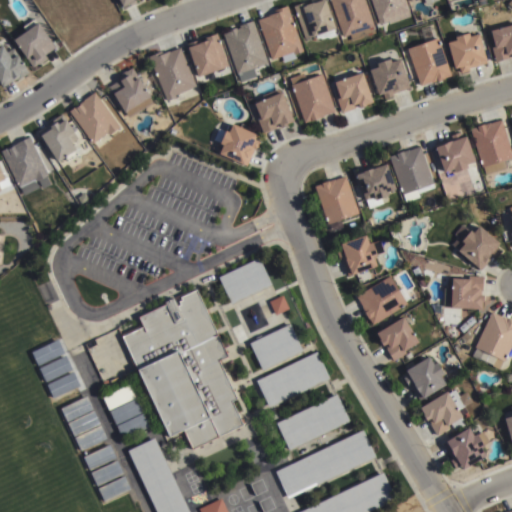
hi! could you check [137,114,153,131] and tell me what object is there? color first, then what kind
blue swimming pool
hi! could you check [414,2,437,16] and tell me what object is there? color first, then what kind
blue swimming pool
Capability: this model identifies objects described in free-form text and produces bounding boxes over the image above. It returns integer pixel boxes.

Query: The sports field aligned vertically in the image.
[0,264,141,512]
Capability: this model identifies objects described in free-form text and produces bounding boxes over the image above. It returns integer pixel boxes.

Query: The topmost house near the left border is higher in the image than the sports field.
[15,20,55,65]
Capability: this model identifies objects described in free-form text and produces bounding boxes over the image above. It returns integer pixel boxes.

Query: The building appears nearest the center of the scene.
[220,260,272,304]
